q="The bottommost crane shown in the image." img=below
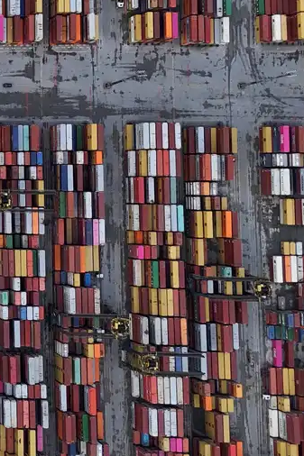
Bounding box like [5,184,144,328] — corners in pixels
[111,336,206,379]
